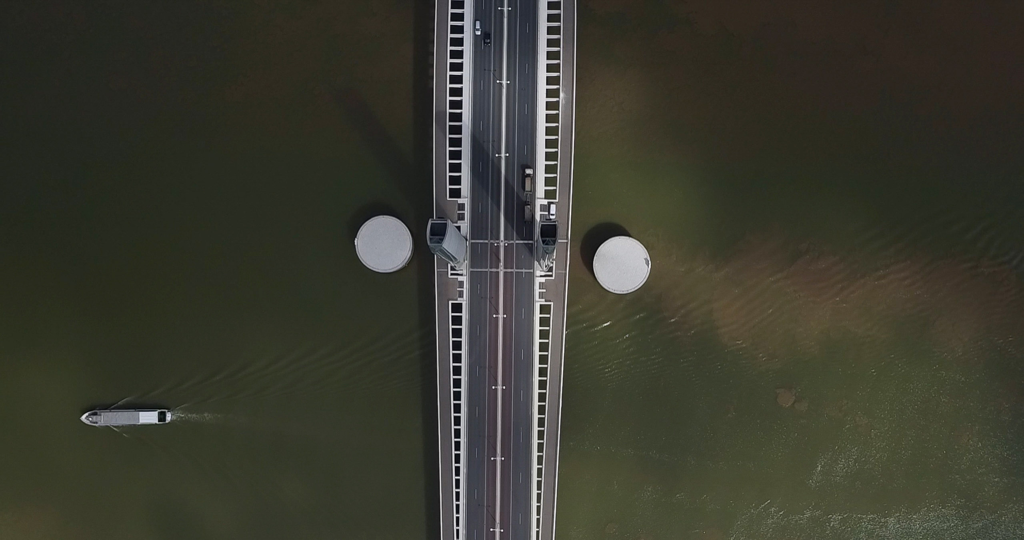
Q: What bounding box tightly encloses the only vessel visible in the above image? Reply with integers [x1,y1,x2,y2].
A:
[79,409,173,425]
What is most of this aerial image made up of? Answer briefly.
water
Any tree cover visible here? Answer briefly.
No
